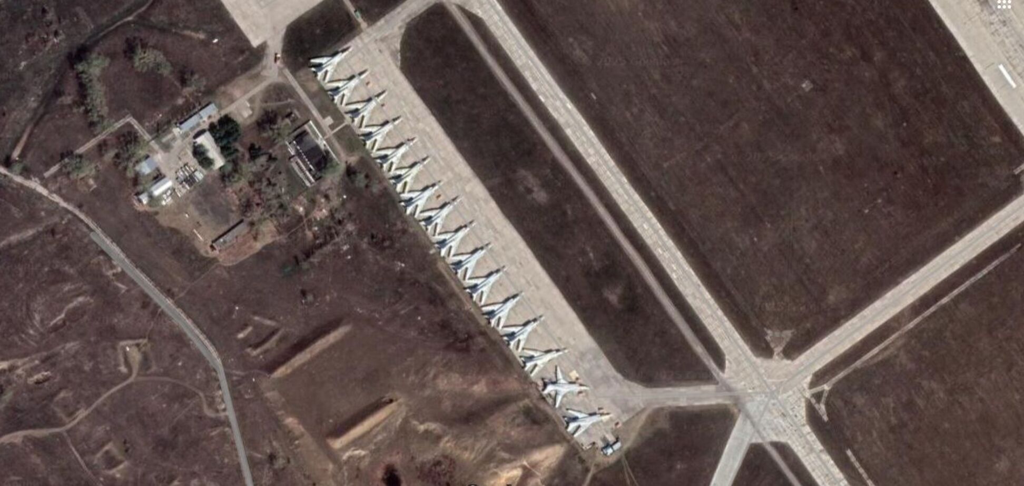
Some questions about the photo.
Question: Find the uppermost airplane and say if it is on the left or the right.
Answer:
left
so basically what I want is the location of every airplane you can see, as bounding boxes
[375,138,416,172]
[327,70,367,104]
[501,317,543,351]
[421,197,461,232]
[308,48,349,82]
[399,181,441,216]
[543,368,587,409]
[450,245,491,279]
[566,408,612,437]
[388,158,429,192]
[482,294,522,328]
[465,268,507,303]
[345,91,386,125]
[522,350,566,376]
[434,222,476,257]
[359,118,401,151]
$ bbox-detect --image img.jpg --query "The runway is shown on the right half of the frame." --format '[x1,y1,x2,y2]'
[929,0,1024,135]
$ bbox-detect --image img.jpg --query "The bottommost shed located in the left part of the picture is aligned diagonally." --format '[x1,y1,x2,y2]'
[213,221,249,250]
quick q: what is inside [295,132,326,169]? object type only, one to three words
building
